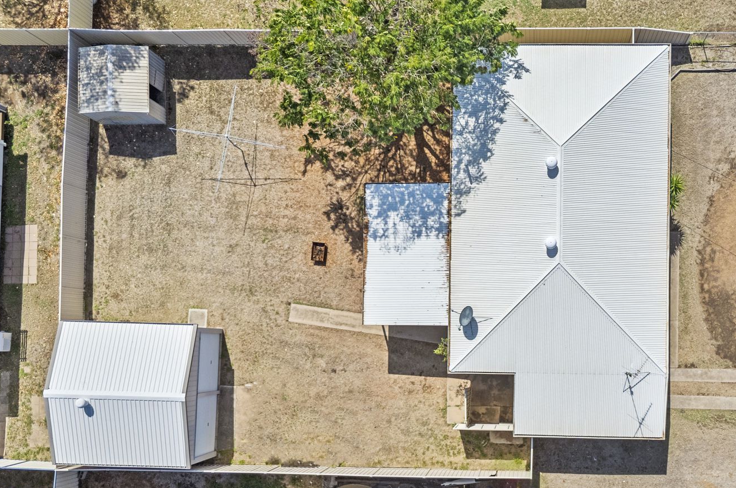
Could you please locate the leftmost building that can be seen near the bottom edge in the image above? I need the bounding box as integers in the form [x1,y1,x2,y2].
[45,317,221,471]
